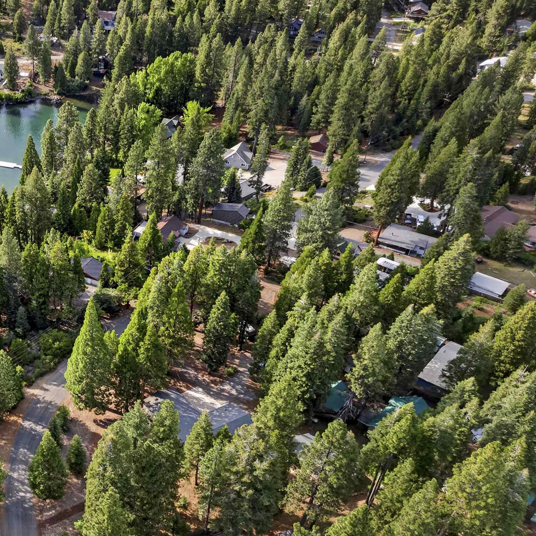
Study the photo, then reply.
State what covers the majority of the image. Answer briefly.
trees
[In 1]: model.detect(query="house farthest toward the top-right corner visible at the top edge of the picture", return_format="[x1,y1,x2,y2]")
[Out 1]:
[507,23,536,39]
